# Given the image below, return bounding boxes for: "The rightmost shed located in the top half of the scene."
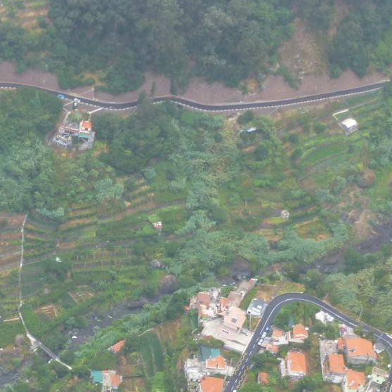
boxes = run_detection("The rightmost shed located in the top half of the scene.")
[334,115,357,136]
